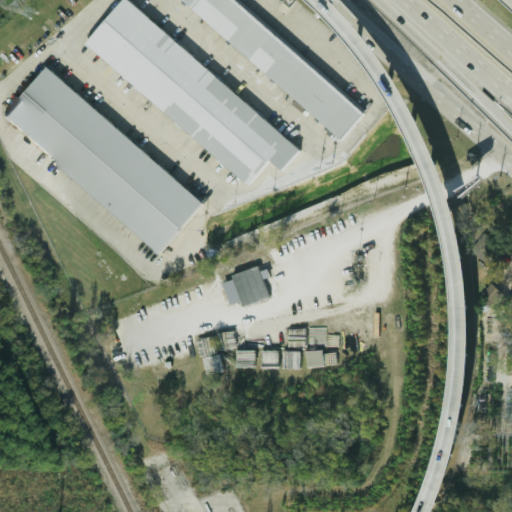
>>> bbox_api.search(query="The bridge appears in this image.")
[304,0,466,512]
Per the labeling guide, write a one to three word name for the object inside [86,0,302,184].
building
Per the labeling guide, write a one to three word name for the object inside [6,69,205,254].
building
